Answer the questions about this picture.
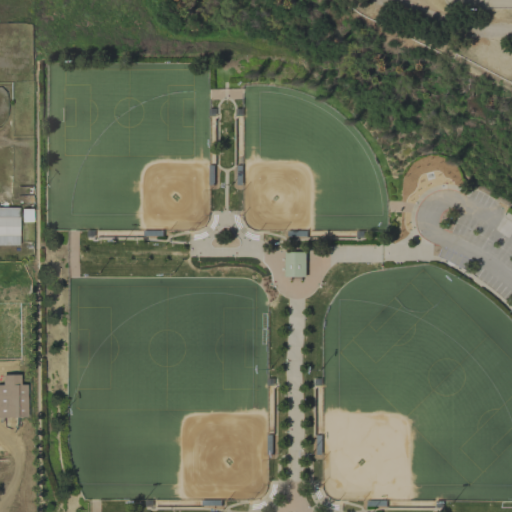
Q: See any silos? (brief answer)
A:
No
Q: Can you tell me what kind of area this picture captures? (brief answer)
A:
sports ground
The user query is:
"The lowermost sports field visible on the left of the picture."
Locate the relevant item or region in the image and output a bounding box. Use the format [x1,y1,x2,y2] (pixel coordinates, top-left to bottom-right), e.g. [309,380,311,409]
[68,278,270,500]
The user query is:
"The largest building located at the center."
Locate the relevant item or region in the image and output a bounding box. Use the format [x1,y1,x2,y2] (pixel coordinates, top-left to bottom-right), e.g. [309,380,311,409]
[286,252,306,281]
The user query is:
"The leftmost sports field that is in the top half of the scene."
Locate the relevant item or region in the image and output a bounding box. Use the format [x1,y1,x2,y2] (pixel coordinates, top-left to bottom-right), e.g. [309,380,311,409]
[48,62,212,230]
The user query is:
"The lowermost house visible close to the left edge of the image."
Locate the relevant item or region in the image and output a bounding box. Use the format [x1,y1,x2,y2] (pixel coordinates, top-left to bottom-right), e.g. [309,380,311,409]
[0,374,30,418]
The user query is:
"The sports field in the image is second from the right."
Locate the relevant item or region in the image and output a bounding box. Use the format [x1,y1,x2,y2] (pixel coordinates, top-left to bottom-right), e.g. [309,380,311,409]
[245,84,388,230]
